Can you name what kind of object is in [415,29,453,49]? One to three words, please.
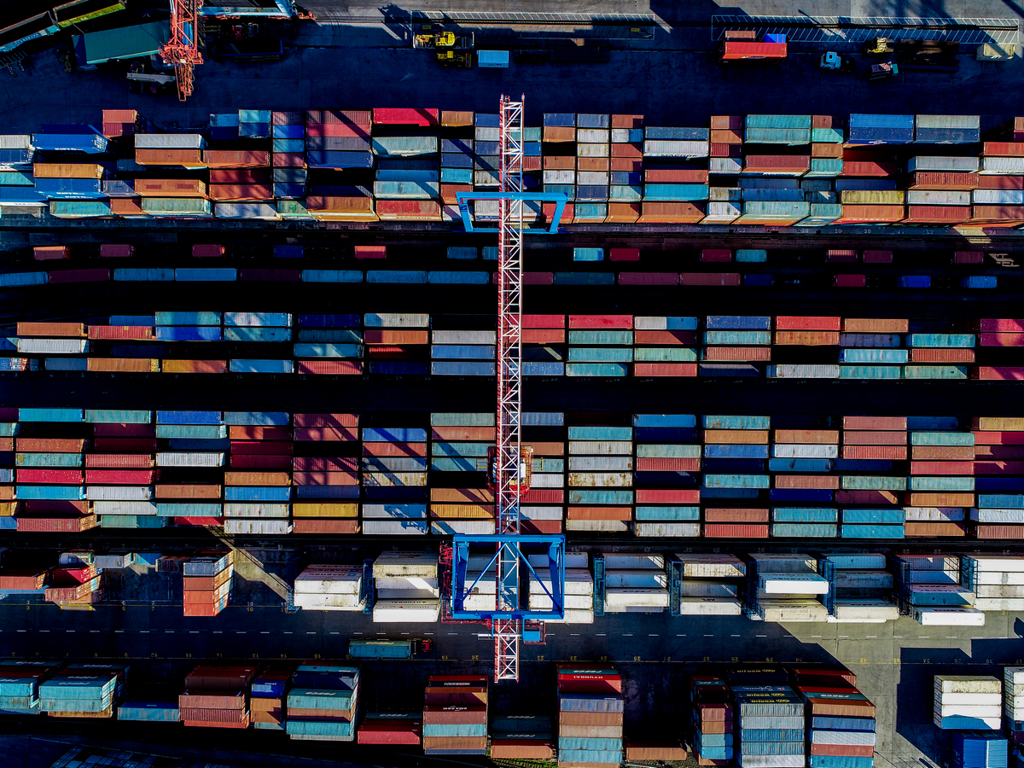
work vehicle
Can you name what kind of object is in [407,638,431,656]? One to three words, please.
vehicle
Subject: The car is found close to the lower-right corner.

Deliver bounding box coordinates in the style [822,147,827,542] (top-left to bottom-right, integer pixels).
[1007,737,1021,758]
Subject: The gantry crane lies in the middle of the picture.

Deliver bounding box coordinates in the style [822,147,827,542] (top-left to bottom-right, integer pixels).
[440,94,573,688]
